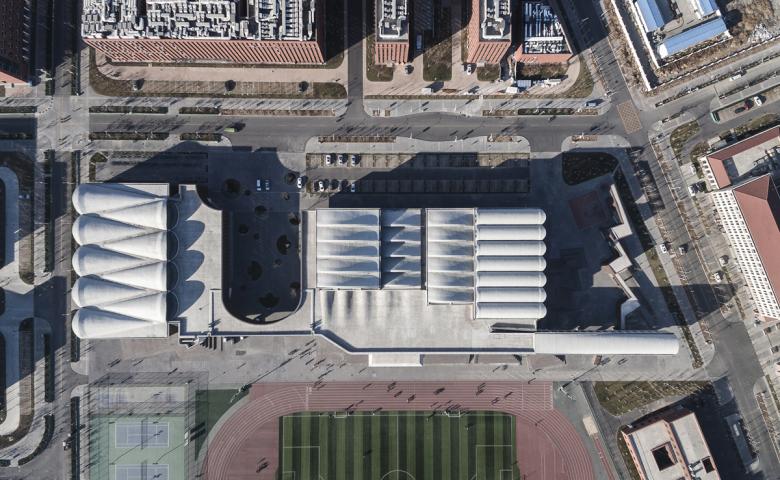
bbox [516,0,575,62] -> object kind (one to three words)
building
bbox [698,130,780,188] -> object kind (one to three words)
building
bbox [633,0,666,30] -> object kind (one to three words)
shed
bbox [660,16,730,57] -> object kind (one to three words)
shed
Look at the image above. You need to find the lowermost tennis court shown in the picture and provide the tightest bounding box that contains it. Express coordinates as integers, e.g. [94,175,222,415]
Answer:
[88,414,184,480]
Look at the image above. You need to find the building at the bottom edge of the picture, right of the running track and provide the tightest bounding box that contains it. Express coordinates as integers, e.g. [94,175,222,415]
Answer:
[621,405,718,480]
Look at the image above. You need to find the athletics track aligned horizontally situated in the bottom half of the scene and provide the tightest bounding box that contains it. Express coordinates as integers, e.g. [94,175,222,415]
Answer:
[195,382,617,480]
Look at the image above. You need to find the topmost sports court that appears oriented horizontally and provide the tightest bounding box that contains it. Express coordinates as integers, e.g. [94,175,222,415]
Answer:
[88,384,190,413]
